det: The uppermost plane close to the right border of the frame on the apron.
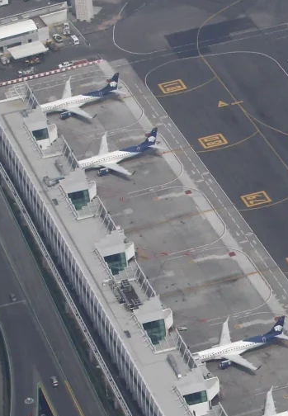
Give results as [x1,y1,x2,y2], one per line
[190,313,288,369]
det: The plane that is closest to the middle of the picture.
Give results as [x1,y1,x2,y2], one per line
[71,128,166,177]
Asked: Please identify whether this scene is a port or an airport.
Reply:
airport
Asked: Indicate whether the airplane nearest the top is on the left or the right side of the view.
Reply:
left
